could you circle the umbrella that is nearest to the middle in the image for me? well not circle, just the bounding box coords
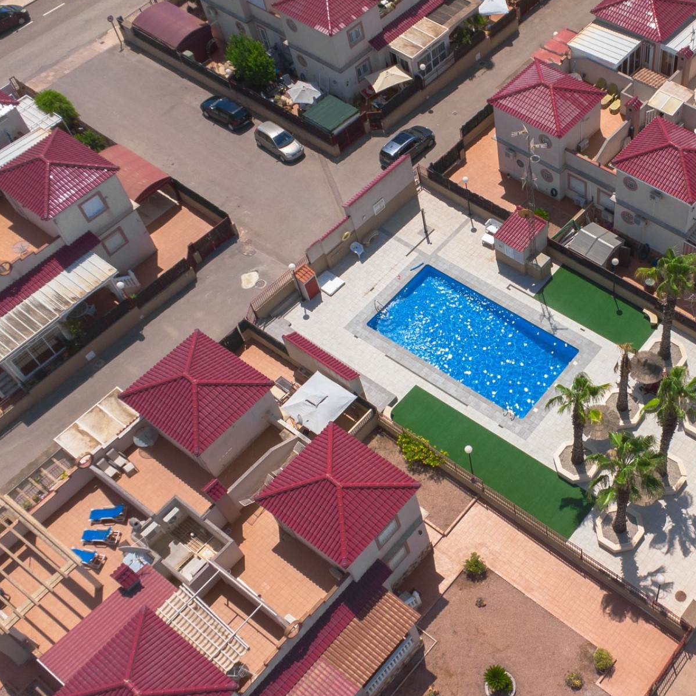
[278,367,362,436]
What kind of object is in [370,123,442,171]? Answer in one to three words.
car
